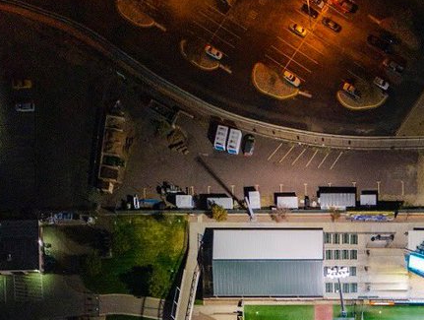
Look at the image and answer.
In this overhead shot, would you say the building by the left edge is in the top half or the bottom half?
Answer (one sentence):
The bottom half of the photo is where the building by the left edge is.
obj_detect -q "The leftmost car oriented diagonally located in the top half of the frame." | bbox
[203,45,223,60]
